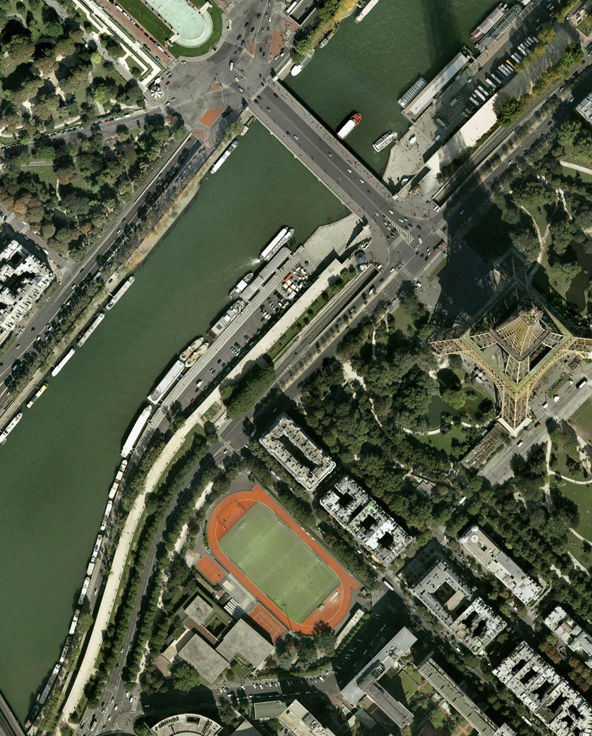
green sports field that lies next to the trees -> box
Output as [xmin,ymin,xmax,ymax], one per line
[203,465,382,639]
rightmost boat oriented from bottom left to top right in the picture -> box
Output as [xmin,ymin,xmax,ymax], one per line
[469,8,503,43]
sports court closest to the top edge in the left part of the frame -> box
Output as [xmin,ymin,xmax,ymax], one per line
[194,555,228,586]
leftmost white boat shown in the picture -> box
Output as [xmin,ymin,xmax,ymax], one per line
[0,414,23,444]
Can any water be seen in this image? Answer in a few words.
Yes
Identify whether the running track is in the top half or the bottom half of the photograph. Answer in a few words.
bottom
